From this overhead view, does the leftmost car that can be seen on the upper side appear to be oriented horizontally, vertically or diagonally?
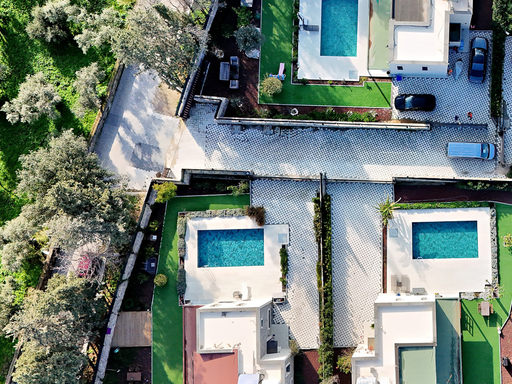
horizontally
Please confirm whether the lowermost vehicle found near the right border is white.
No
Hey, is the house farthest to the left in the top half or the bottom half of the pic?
bottom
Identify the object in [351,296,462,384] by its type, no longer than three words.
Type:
house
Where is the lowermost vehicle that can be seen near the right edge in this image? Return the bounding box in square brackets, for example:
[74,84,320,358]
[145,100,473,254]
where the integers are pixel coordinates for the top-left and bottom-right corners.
[448,140,494,161]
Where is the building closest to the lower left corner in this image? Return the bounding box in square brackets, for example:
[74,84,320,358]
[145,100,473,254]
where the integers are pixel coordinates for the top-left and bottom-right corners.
[182,300,297,384]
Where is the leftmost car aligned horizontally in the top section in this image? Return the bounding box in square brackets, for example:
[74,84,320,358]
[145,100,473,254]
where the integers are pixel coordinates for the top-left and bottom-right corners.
[394,92,436,113]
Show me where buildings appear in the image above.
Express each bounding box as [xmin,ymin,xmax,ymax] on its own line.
[367,0,473,77]
[182,300,297,384]
[351,296,462,384]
